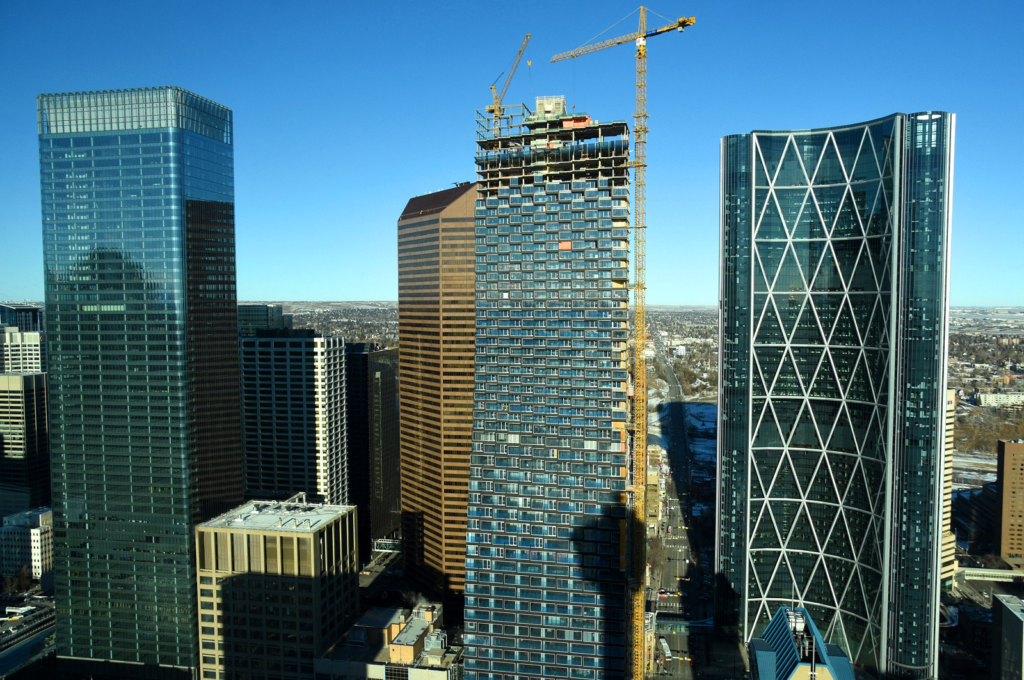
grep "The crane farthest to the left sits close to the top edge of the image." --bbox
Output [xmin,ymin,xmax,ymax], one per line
[486,28,533,151]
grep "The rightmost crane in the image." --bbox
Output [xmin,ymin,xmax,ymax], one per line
[553,4,698,680]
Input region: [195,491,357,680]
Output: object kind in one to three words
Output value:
building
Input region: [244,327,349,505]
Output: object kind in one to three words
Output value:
building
